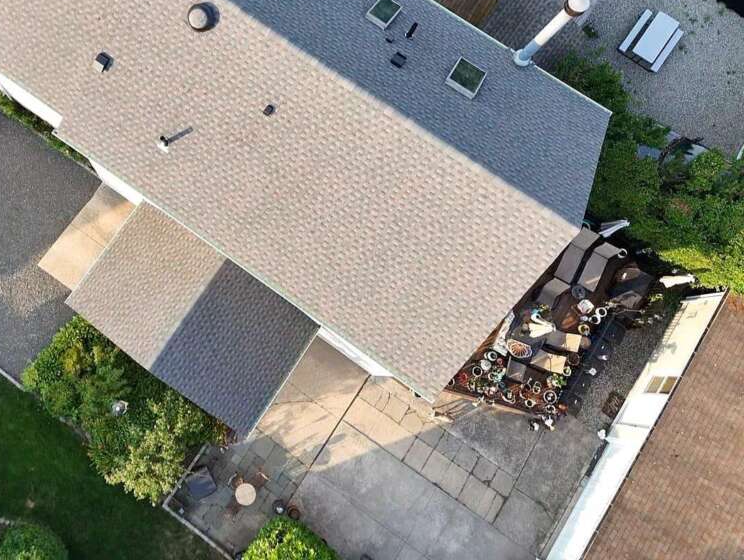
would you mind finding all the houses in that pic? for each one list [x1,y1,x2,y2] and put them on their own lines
[0,0,612,438]
[534,287,744,560]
